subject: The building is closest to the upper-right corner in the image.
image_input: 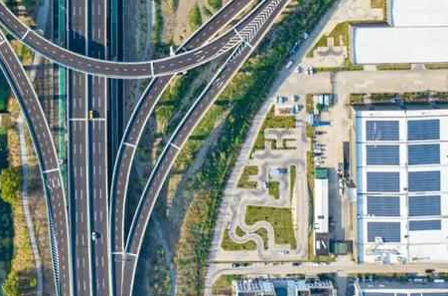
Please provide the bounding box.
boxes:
[350,0,448,64]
